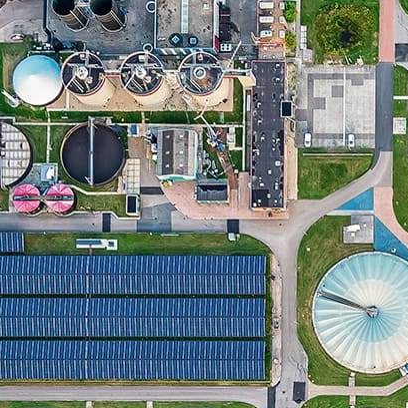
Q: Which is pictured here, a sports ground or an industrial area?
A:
industrial area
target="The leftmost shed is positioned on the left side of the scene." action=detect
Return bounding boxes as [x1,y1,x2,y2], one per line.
[41,164,59,182]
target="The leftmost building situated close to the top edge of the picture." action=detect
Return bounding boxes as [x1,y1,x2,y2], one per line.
[155,0,213,55]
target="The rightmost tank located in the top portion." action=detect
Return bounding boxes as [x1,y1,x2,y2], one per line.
[177,51,222,106]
